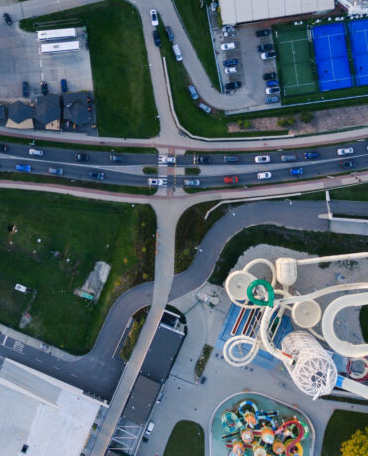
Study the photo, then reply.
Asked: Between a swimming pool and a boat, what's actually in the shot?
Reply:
swimming pool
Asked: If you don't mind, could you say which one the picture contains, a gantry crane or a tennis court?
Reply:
tennis court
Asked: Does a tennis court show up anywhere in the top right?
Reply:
Yes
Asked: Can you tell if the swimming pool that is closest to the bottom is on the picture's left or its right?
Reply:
right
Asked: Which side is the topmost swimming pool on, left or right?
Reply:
right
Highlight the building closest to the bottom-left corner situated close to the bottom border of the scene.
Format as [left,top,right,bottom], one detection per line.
[0,352,109,456]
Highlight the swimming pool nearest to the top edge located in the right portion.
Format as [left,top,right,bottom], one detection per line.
[217,301,293,373]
